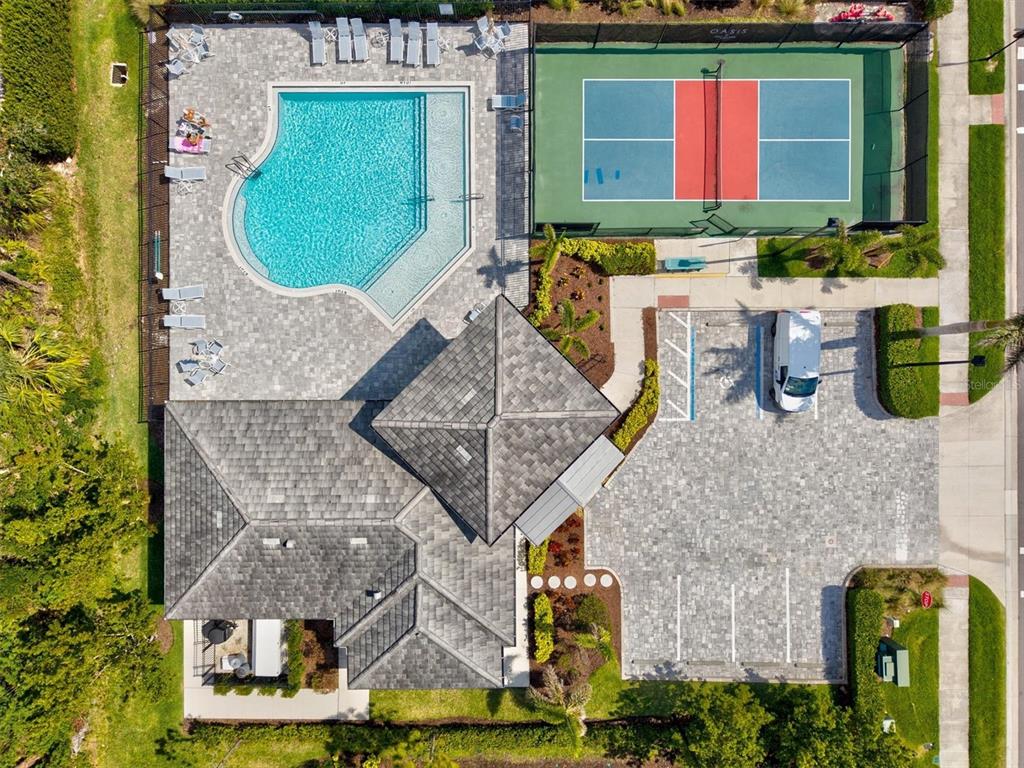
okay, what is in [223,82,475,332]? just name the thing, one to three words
swimming pool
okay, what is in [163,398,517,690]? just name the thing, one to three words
building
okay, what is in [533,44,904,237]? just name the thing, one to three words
sports court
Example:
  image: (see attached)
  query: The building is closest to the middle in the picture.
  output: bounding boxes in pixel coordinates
[367,291,622,546]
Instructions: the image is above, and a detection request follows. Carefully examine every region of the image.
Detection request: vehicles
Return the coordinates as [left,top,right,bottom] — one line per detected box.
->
[771,307,826,412]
